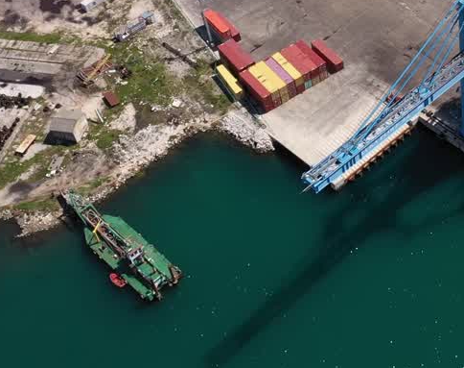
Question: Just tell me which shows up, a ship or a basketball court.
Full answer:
Visible in the photo is a ship.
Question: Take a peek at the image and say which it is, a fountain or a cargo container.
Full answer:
Of the two, only a cargo container appears.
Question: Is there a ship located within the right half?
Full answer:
No, no ship can be made out within the right half.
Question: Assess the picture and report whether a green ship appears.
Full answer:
Yes, the image includes a green ship.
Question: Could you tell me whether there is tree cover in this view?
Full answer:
No, the picture contains no tree cover.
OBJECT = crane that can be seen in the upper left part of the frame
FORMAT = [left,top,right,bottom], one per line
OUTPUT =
[72,49,109,83]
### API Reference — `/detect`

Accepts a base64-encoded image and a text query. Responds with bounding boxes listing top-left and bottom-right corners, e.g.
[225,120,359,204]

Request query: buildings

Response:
[80,0,108,17]
[104,90,120,111]
[43,107,79,141]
